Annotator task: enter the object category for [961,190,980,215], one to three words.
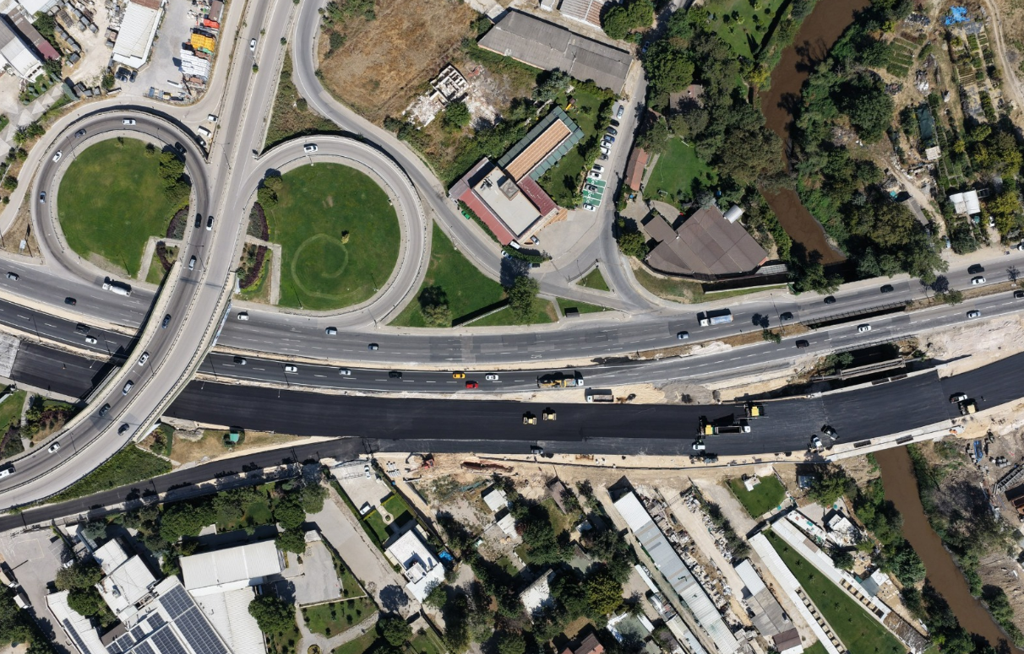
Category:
shed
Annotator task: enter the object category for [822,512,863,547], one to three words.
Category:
house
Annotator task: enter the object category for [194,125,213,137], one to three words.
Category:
vehicle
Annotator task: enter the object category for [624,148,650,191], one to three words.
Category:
building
